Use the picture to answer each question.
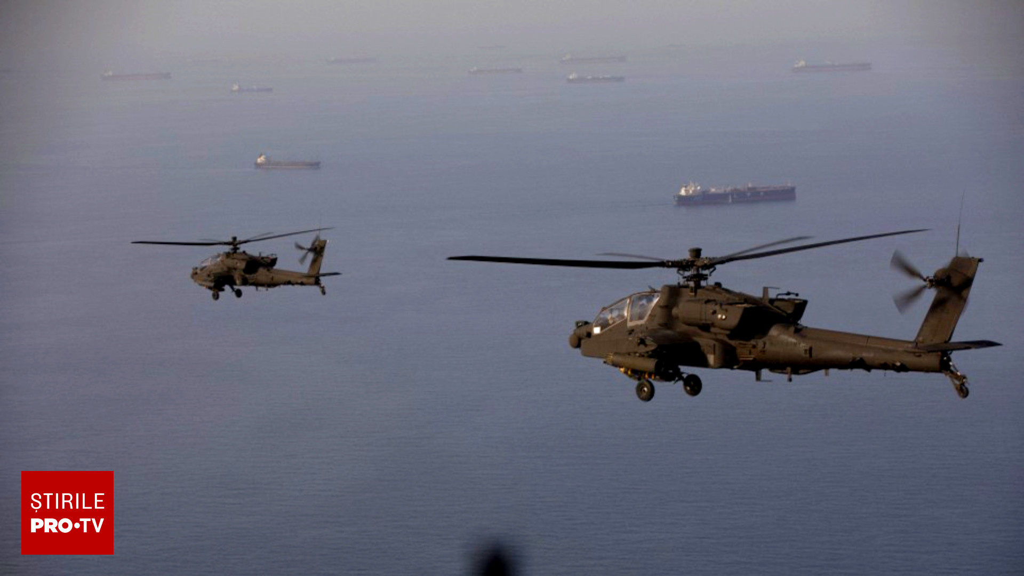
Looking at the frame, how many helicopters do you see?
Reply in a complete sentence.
In total, 2 helicopters can be seen.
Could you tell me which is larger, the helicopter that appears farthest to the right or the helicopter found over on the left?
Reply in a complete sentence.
Of the two, the helicopter that appears farthest to the right is bigger, while the helicopter found over on the left is smaller.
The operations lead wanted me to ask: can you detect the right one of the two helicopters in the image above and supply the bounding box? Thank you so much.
[447,191,1006,402]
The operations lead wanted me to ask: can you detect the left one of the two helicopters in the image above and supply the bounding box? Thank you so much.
[131,217,339,301]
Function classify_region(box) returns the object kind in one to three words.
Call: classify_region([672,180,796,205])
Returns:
ship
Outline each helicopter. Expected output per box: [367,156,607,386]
[131,217,339,301]
[447,191,1006,402]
